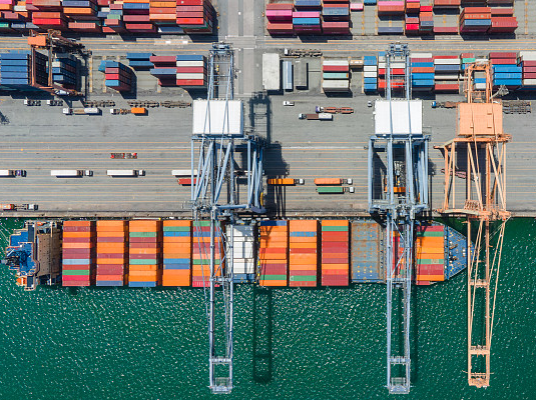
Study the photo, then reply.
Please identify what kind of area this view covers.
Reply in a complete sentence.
This image shows a port.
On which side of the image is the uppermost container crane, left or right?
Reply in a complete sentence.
You can find the uppermost container crane on the left side of the picture.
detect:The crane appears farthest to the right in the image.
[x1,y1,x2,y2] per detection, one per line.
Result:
[429,66,516,387]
